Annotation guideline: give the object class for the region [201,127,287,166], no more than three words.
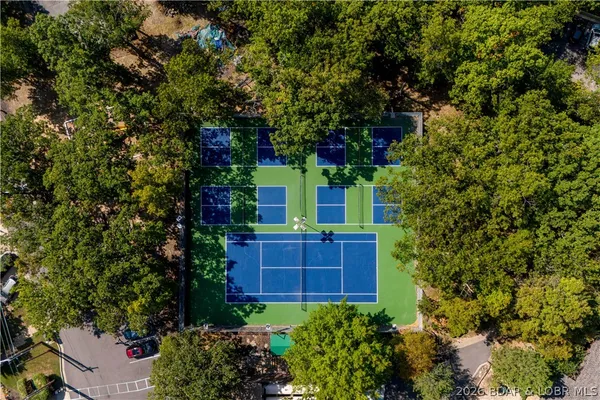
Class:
sports court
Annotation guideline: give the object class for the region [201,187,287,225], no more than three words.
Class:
sports court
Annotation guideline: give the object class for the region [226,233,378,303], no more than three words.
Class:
tennis court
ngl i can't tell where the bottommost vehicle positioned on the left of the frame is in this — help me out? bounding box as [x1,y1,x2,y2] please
[124,340,156,358]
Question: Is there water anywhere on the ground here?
No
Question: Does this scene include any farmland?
No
